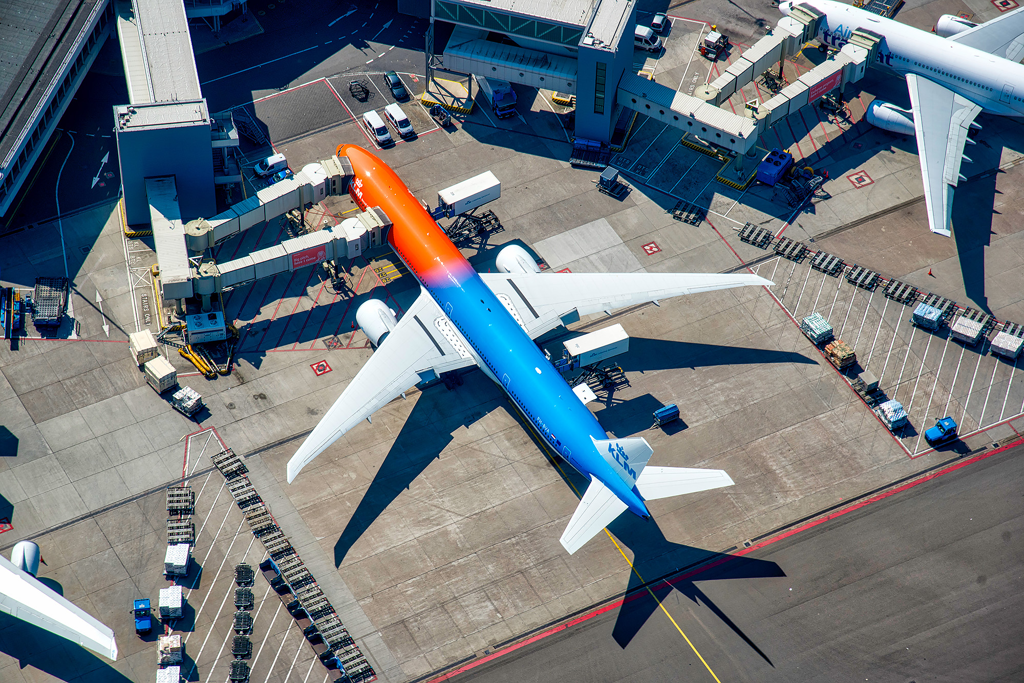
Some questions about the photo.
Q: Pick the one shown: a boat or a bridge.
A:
bridge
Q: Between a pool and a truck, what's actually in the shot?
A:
truck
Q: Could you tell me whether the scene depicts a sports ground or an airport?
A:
airport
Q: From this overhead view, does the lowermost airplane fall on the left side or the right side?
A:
left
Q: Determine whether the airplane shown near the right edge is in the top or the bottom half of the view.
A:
top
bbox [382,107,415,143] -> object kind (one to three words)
van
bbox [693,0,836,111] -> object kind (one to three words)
jet bridge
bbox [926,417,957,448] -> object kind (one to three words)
work vehicle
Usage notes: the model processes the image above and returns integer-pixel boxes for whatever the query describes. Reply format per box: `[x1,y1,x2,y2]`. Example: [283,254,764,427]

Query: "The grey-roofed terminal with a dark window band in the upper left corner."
[0,0,115,214]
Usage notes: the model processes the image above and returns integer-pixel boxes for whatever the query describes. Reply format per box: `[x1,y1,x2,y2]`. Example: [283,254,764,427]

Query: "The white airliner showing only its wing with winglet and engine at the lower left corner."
[0,542,117,661]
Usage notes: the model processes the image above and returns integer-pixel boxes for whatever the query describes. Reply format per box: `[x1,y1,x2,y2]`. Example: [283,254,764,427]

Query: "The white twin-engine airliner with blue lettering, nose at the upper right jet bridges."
[779,0,1024,230]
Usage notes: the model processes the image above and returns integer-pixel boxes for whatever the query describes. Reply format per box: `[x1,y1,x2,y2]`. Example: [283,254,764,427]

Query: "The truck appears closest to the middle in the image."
[550,324,629,398]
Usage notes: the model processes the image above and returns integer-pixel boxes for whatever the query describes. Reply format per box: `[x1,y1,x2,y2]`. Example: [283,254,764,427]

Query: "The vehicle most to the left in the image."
[0,284,22,336]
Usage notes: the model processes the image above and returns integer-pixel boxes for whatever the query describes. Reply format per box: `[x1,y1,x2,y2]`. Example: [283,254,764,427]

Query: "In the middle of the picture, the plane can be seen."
[287,148,774,555]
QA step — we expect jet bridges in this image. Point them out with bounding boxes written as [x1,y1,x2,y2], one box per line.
[693,0,836,111]
[741,26,895,152]
[190,205,394,314]
[184,152,360,260]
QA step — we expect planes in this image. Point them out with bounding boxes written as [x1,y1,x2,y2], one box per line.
[287,148,774,555]
[779,0,1024,230]
[0,542,117,661]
